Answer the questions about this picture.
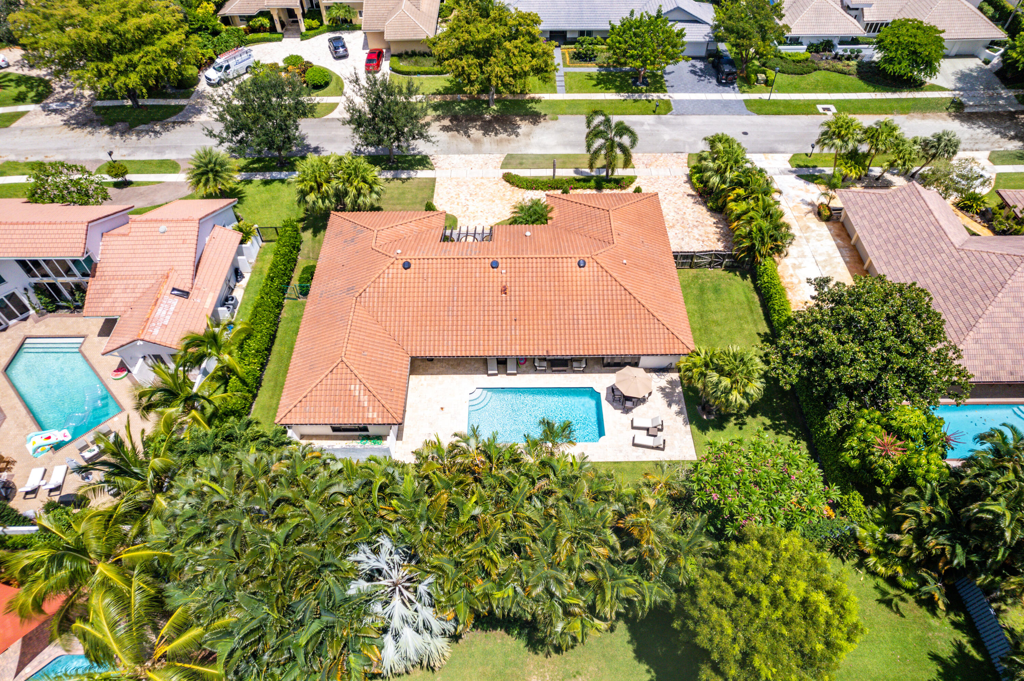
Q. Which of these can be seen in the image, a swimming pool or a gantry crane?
swimming pool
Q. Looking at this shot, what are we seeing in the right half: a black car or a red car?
black car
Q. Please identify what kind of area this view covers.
residential area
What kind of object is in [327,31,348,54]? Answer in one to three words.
car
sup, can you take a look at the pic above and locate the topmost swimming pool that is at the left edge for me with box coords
[0,333,125,455]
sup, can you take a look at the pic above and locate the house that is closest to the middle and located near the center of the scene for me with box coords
[273,190,694,463]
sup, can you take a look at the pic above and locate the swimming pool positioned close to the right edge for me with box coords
[927,402,1024,462]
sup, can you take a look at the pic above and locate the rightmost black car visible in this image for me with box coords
[715,52,736,77]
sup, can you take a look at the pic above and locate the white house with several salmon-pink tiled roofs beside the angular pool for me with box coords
[0,197,244,392]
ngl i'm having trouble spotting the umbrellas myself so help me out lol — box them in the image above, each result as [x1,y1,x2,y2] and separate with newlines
[67,460,93,500]
[615,365,653,400]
